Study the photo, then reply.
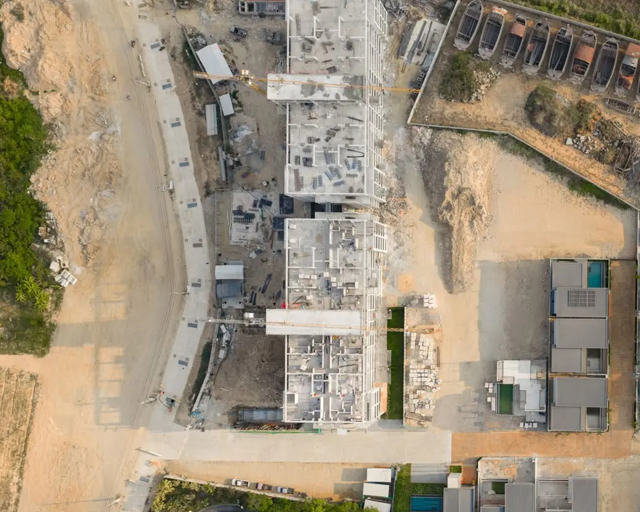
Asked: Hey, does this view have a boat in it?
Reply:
Yes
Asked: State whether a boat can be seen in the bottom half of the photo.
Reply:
No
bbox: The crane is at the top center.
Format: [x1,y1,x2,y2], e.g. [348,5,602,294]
[195,68,420,108]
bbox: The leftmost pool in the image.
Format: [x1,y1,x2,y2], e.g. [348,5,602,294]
[410,497,441,512]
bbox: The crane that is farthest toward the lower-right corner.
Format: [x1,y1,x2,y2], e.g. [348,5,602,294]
[208,310,439,333]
